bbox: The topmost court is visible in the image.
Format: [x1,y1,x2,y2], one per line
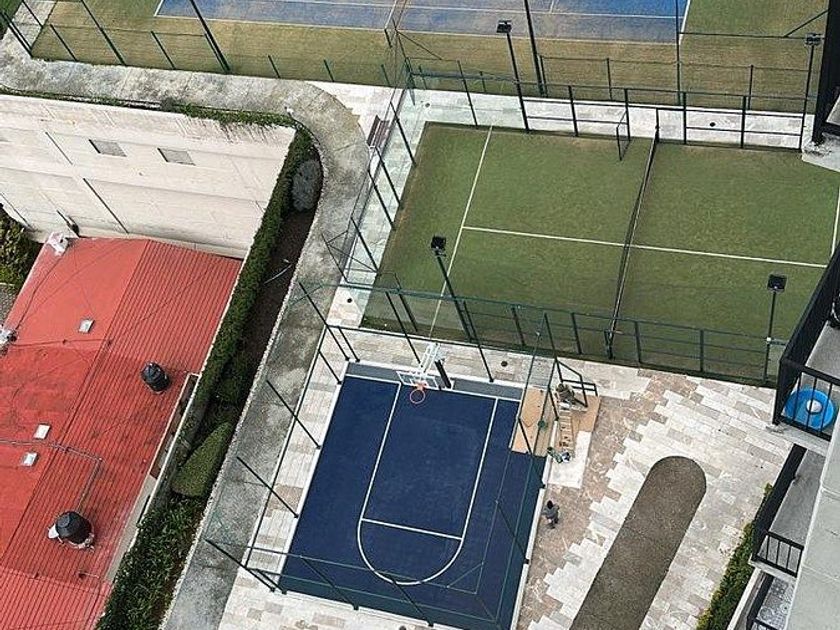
[33,0,833,115]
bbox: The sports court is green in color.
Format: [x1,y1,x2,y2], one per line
[360,121,840,390]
